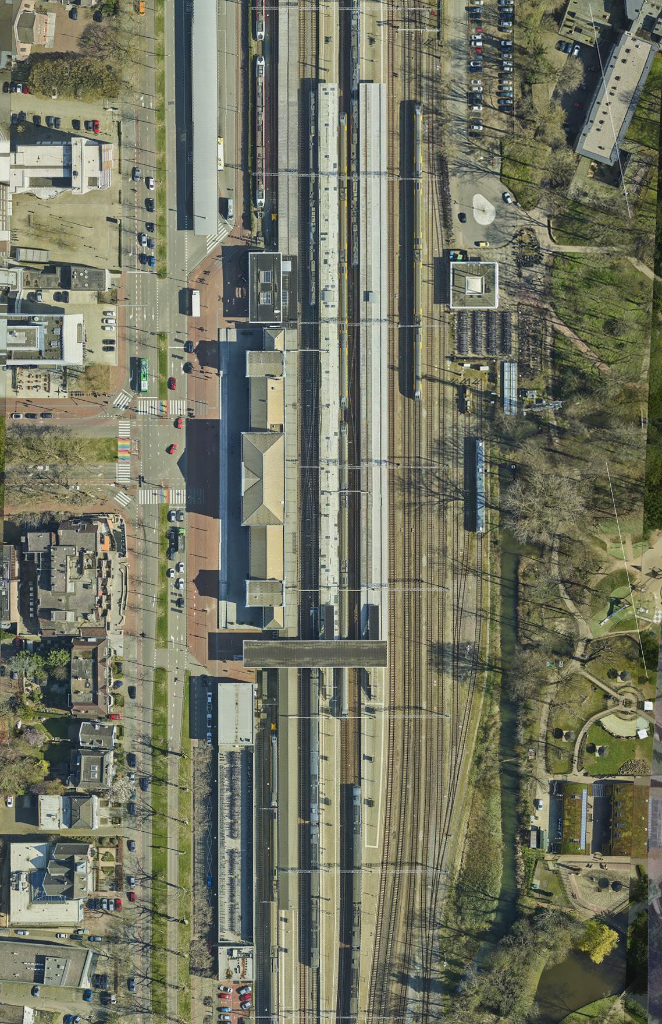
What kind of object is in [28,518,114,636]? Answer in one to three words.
building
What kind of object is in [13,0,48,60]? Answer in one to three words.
house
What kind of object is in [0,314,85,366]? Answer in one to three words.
building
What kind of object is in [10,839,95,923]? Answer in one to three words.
house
